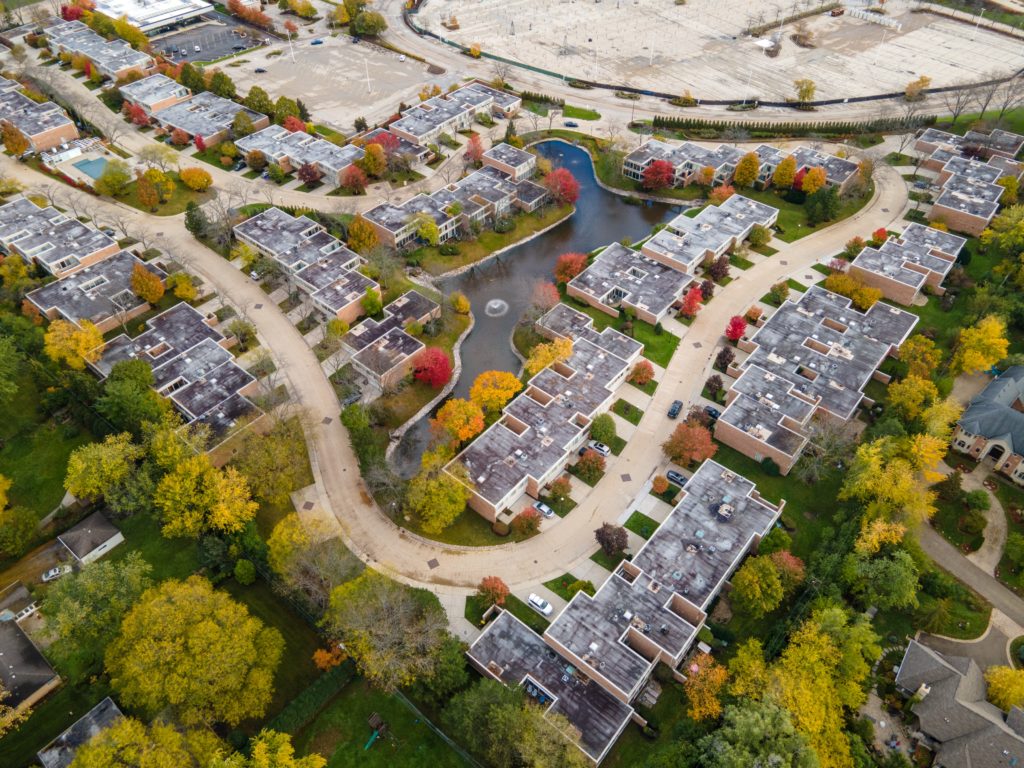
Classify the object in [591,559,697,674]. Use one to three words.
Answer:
house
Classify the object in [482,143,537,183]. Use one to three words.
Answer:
house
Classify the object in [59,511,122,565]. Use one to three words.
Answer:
building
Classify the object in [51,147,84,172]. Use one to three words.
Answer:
building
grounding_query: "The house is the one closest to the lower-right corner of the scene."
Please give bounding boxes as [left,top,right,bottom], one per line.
[881,627,1024,768]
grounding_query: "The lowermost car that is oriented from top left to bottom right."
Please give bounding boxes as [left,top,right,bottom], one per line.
[526,592,555,615]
